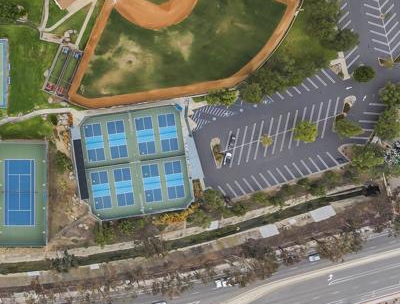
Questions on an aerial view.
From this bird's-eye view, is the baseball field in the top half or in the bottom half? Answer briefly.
top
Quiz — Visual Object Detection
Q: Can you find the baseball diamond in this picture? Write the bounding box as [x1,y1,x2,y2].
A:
[69,0,300,107]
